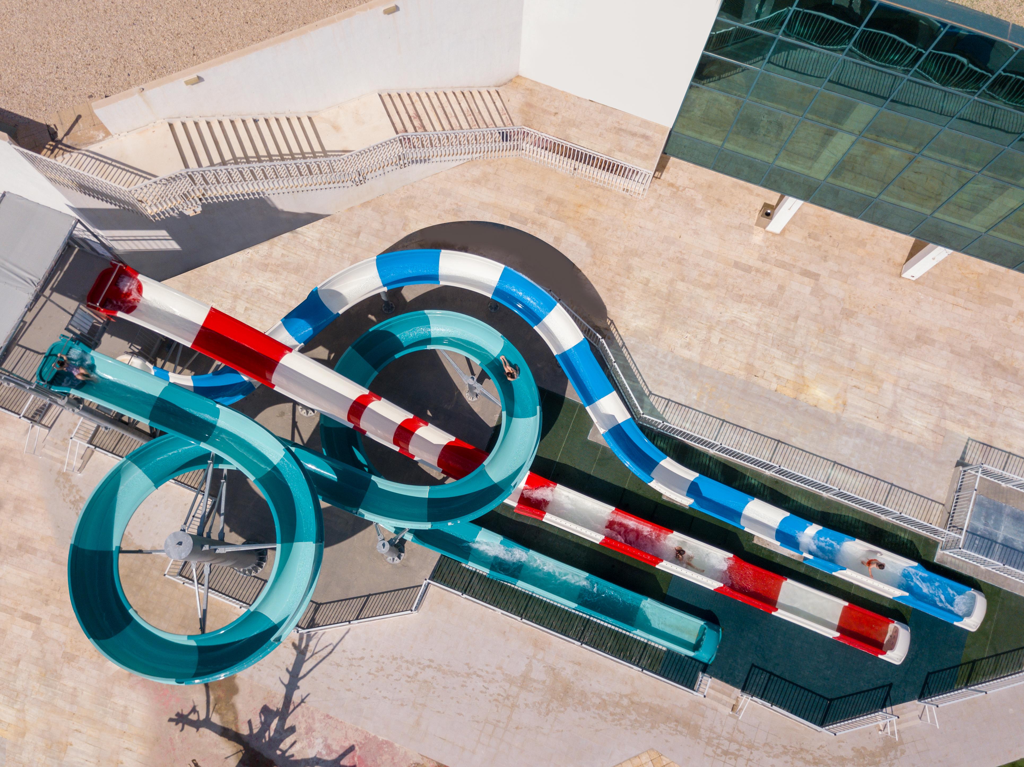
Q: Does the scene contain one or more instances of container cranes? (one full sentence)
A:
No, the picture doesn't show any container crane.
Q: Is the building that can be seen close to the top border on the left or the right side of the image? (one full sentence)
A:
You can find the building that can be seen close to the top border on the right side of the picture.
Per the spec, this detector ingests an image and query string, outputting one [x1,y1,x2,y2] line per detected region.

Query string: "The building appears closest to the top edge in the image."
[518,0,1024,282]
